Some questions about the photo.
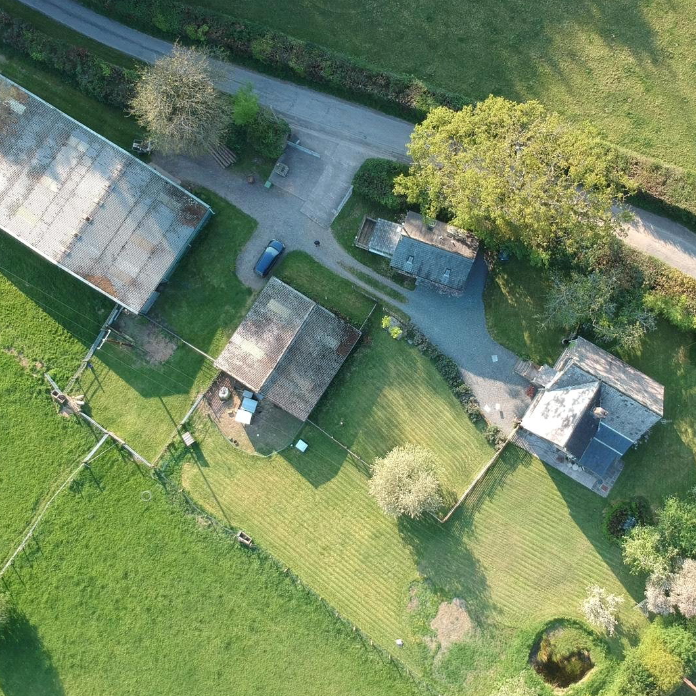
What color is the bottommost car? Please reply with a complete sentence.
The color of the bottommost car is blue.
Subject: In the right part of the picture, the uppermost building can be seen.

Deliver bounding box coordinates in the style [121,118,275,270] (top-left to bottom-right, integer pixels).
[365,210,480,292]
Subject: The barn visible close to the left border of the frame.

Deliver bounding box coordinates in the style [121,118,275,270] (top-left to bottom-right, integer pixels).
[0,73,221,315]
